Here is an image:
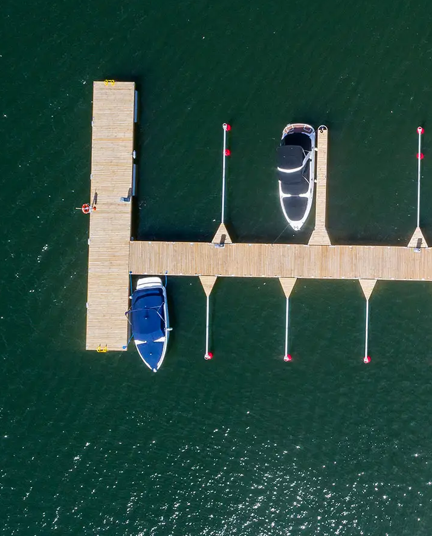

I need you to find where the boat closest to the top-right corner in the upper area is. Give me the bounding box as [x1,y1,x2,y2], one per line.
[272,124,322,245]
